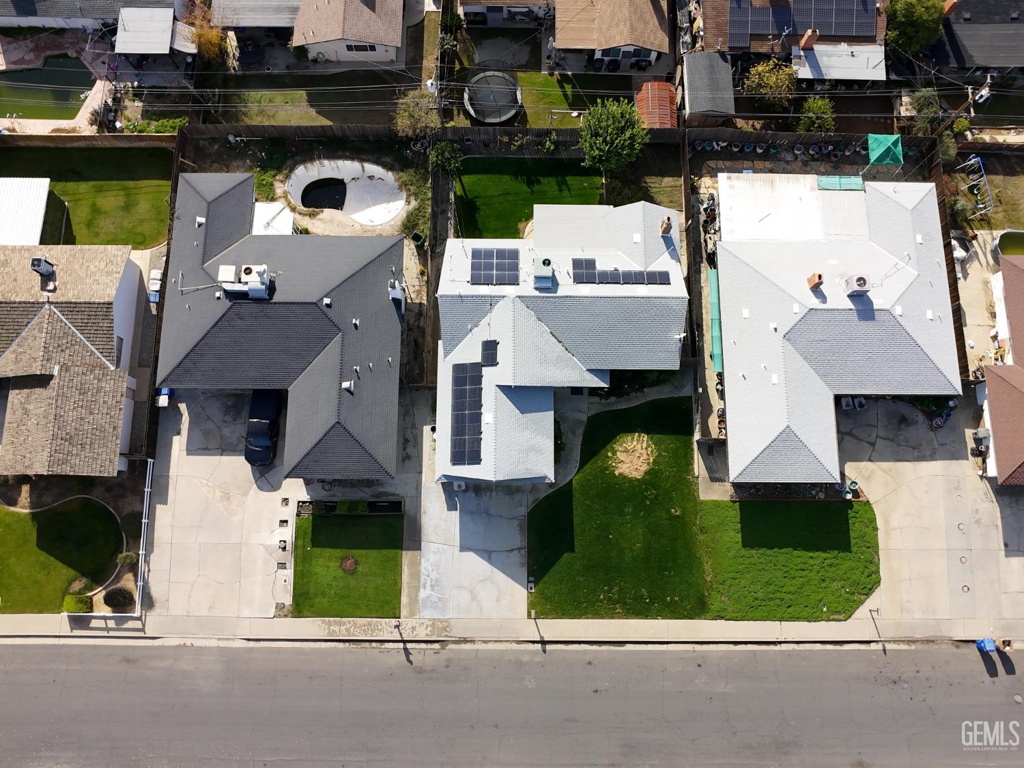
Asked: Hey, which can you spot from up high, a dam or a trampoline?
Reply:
trampoline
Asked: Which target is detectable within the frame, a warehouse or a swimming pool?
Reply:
swimming pool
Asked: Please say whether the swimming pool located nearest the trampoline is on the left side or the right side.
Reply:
left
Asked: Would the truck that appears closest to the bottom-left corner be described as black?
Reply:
Yes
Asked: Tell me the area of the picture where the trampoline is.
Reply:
top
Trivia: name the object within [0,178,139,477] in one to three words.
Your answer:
house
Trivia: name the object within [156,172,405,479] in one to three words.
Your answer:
house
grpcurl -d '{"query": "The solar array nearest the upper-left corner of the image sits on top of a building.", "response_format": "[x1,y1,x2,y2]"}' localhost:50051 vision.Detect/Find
[470,248,520,283]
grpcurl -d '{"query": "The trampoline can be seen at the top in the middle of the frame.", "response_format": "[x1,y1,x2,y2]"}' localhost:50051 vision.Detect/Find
[465,61,520,125]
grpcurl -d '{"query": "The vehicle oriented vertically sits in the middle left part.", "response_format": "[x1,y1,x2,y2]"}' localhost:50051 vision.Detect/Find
[238,389,280,473]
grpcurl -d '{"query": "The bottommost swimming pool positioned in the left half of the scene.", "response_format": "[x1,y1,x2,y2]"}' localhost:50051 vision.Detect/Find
[286,152,407,226]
